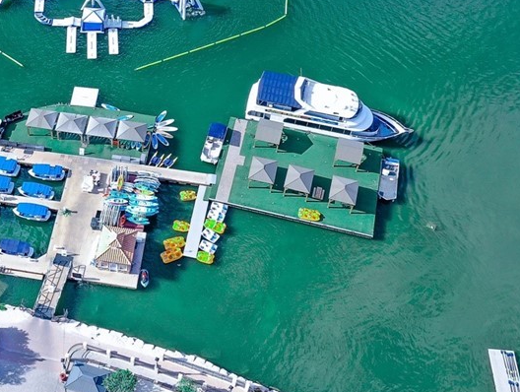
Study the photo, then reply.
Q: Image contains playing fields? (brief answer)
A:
No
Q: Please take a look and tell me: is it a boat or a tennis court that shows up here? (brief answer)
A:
boat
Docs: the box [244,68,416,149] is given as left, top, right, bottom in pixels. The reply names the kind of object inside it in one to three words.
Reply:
boat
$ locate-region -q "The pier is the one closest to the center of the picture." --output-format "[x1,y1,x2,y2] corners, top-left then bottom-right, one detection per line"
[183,186,209,259]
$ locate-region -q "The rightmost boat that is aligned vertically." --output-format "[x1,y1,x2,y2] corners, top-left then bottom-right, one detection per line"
[377,159,401,201]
